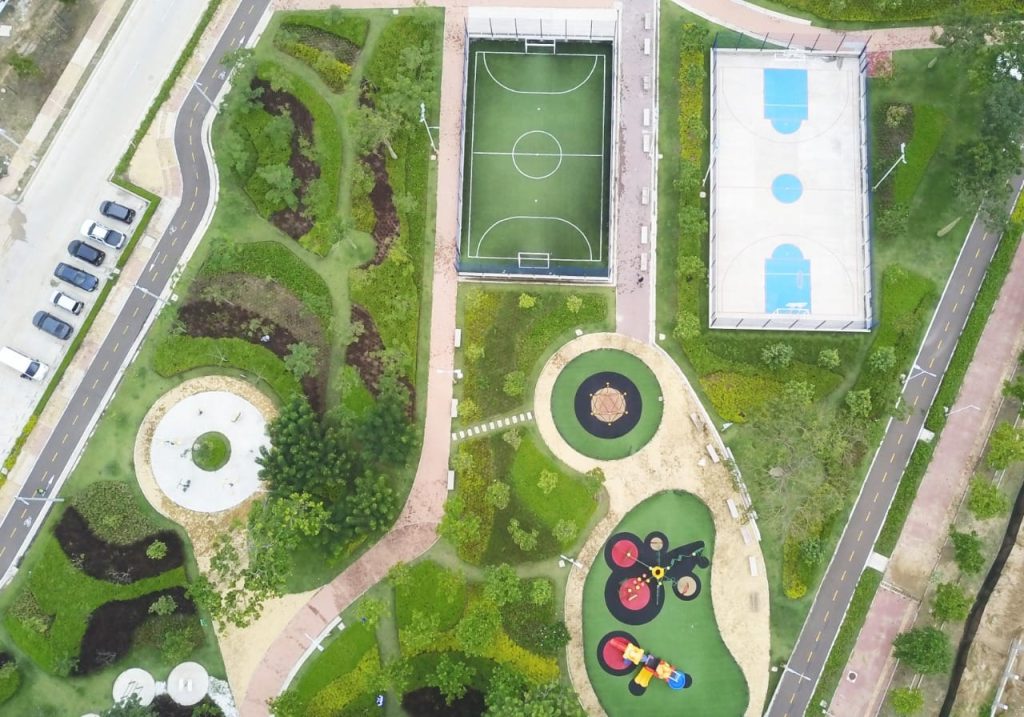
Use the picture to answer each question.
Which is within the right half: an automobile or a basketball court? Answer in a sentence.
What appears within the right half is a basketball court.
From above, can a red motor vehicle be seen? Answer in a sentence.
No, I find no red motor vehicle anywhere in the image.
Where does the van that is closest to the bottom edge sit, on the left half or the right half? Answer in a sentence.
The van that is closest to the bottom edge is on the left side of the image.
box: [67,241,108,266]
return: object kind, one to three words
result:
car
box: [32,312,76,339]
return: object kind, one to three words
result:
car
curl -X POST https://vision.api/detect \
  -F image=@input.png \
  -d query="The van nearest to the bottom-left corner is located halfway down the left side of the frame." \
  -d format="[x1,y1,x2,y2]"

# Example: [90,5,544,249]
[0,344,48,379]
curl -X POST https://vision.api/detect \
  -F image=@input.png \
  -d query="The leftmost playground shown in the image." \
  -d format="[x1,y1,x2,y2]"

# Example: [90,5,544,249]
[551,348,664,461]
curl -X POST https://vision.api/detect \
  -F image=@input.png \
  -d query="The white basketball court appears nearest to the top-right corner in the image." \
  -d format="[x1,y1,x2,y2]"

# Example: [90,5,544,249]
[709,48,870,329]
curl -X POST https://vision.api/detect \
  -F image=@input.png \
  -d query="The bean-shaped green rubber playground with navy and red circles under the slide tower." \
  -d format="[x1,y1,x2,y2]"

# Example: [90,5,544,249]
[583,489,750,717]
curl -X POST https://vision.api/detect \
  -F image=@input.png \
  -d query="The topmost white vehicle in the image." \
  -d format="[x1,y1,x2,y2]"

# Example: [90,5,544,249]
[81,222,128,249]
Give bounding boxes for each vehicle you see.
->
[0,344,48,379]
[100,201,138,225]
[32,312,76,339]
[53,263,100,291]
[81,222,128,249]
[51,293,86,316]
[67,241,108,266]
